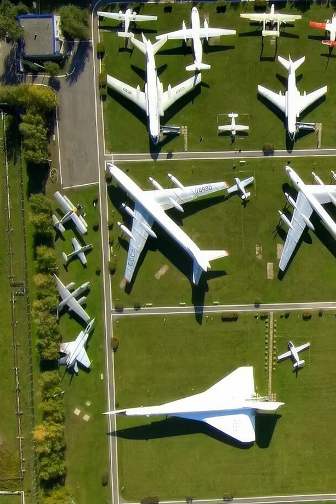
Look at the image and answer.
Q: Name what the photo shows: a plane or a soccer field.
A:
plane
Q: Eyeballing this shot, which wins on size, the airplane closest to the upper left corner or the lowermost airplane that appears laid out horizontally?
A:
the lowermost airplane that appears laid out horizontally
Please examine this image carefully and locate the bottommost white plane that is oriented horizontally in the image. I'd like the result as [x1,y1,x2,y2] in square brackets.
[105,364,282,442]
